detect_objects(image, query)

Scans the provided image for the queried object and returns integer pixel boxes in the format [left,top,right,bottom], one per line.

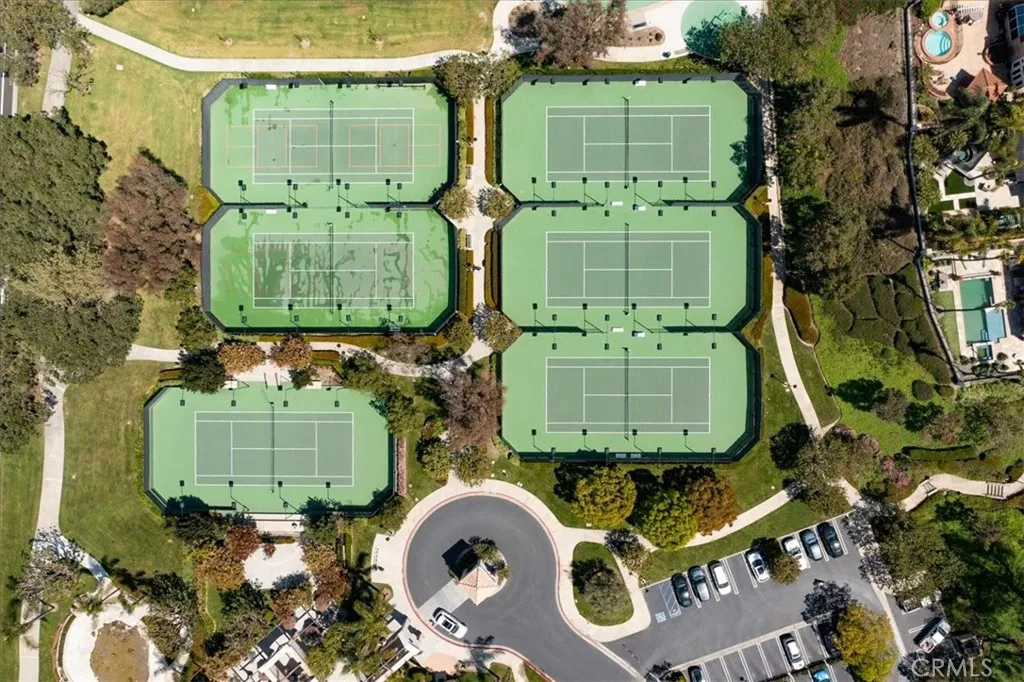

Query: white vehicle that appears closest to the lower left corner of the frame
[435,609,468,638]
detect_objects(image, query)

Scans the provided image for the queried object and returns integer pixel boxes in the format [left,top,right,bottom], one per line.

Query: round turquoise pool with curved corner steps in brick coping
[919,24,957,61]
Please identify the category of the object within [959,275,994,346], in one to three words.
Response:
swimming pool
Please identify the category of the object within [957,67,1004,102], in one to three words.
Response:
building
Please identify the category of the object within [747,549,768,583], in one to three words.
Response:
car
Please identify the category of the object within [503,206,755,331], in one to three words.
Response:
tennis court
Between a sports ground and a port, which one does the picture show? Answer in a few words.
sports ground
